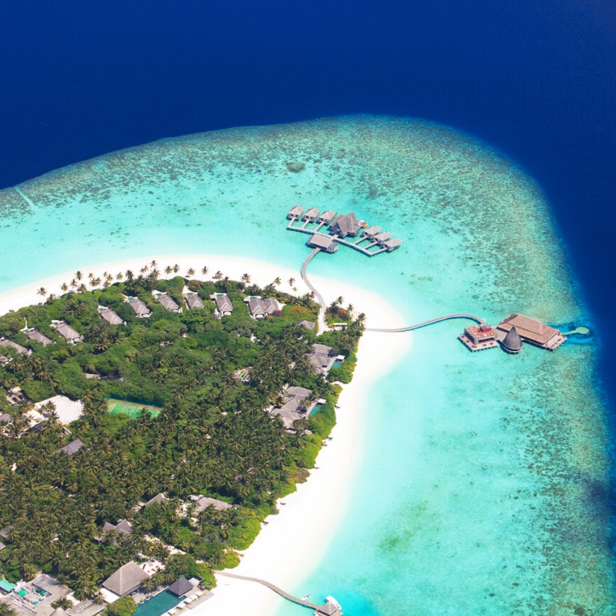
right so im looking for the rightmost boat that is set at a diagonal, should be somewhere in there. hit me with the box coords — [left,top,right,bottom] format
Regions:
[326,594,341,611]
